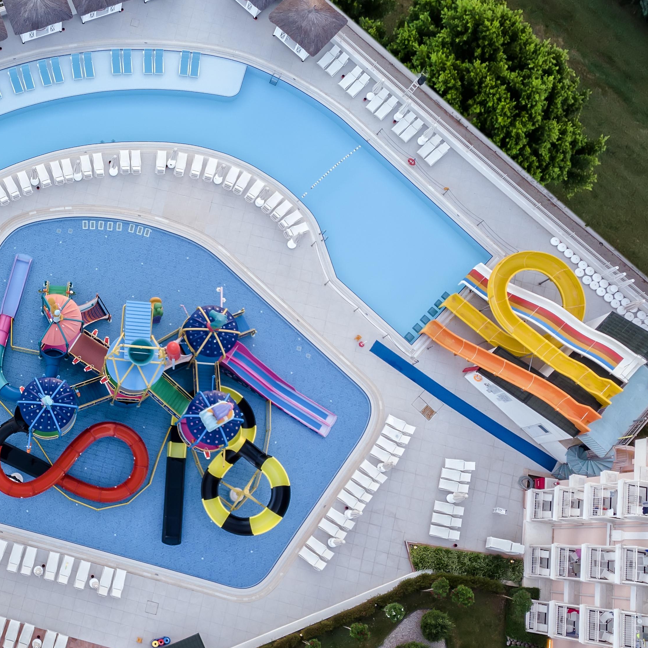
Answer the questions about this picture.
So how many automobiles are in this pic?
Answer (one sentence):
The count of automobiles is 0.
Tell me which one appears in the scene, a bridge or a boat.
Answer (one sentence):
I can see a bridge in this picture.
